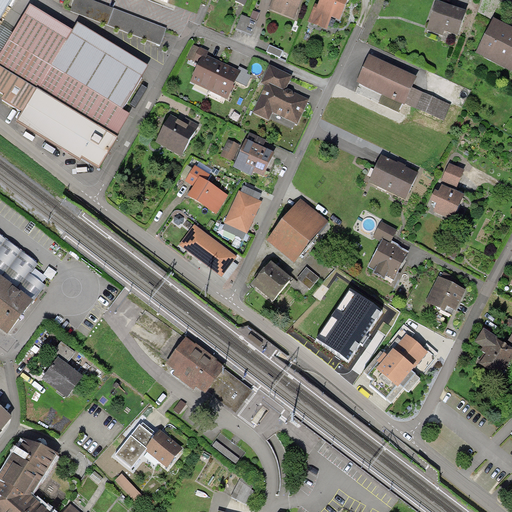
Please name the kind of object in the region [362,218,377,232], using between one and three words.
swimming pool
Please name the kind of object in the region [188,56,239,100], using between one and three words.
house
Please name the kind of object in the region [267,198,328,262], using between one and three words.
barn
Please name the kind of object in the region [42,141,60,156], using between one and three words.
vehicle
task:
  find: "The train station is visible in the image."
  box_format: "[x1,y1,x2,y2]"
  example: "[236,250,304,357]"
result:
[63,207,478,512]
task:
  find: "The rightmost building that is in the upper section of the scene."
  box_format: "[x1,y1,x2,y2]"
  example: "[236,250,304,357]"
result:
[476,18,512,74]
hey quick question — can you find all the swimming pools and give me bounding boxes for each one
[251,64,262,75]
[362,218,377,232]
